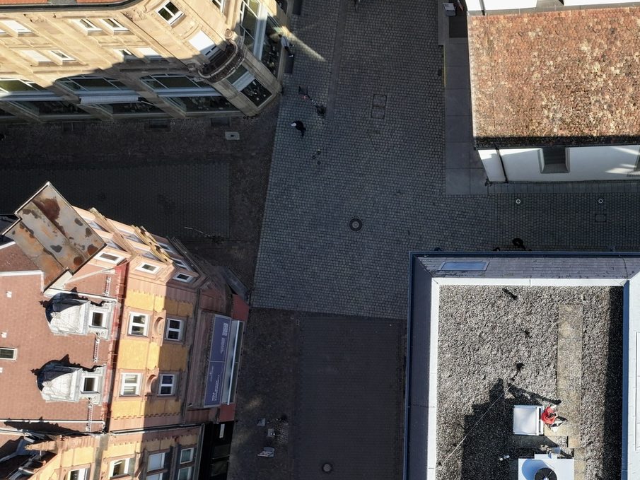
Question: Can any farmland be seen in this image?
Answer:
No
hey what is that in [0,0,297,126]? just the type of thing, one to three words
building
